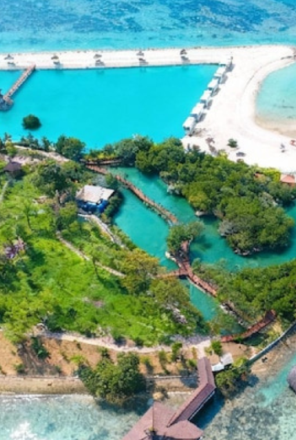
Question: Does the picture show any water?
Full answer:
Yes, water can be seen from above here.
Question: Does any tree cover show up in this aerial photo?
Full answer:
Yes, tree cover shows up in the scene.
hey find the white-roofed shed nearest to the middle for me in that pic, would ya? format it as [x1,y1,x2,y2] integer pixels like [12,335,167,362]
[74,187,115,216]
